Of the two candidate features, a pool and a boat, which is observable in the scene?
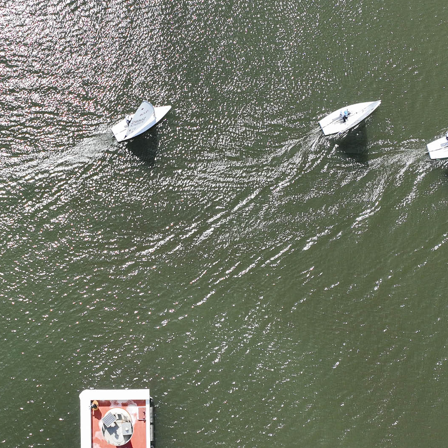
boat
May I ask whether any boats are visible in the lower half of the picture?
No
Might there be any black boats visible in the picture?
No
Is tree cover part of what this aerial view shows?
No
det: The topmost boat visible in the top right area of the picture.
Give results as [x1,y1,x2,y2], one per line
[317,96,381,135]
